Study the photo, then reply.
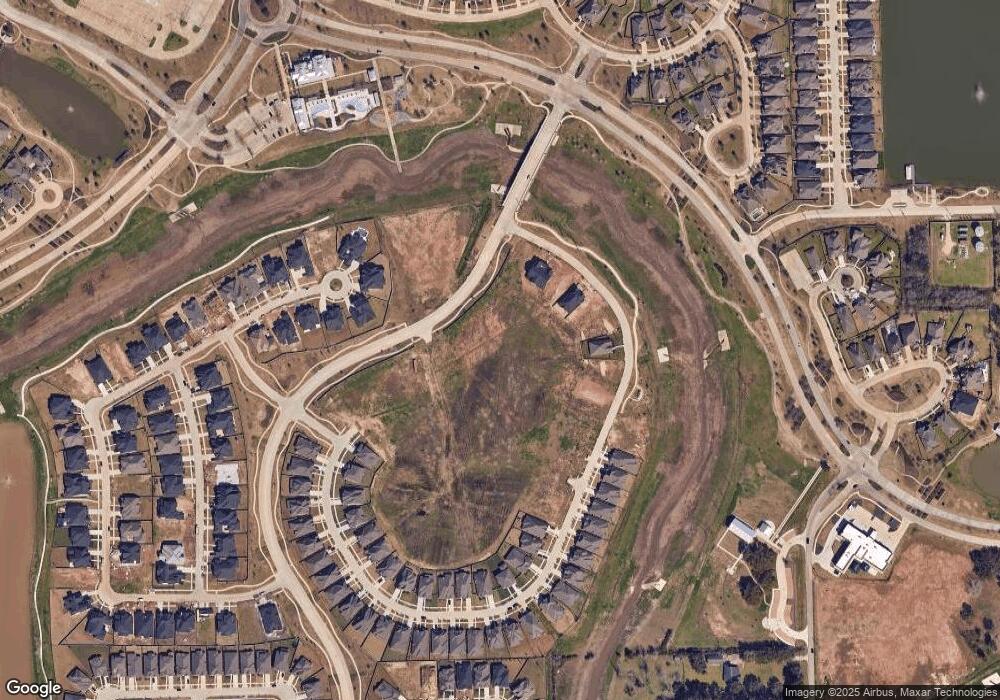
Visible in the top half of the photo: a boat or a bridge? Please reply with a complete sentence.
There is a bridge in the top half of the photo.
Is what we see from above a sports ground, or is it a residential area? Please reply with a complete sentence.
This looks like a residential area.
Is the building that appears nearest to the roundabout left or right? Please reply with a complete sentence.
You can find the building that appears nearest to the roundabout on the left side of the picture.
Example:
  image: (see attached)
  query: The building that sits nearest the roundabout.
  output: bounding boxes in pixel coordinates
[292,56,335,84]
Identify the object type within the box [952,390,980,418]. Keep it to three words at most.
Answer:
house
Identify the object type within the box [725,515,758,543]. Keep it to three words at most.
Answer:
building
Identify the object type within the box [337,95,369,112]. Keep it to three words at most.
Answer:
swimming pool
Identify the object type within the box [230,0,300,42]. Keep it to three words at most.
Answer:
roundabout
